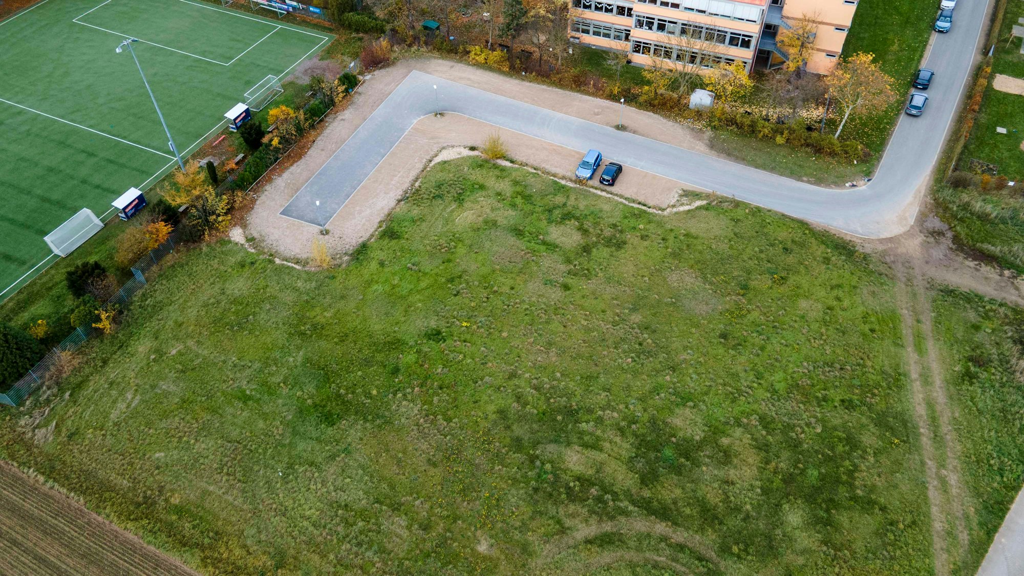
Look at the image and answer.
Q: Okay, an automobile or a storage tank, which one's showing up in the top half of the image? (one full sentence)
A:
Looking in the top half of the image, you will find an automobile.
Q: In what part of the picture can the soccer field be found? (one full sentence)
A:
The soccer field is located in the top left region of the scene.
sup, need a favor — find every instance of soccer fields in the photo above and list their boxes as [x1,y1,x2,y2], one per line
[0,0,343,307]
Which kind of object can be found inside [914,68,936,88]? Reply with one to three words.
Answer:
car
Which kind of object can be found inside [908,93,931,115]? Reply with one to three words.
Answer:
car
